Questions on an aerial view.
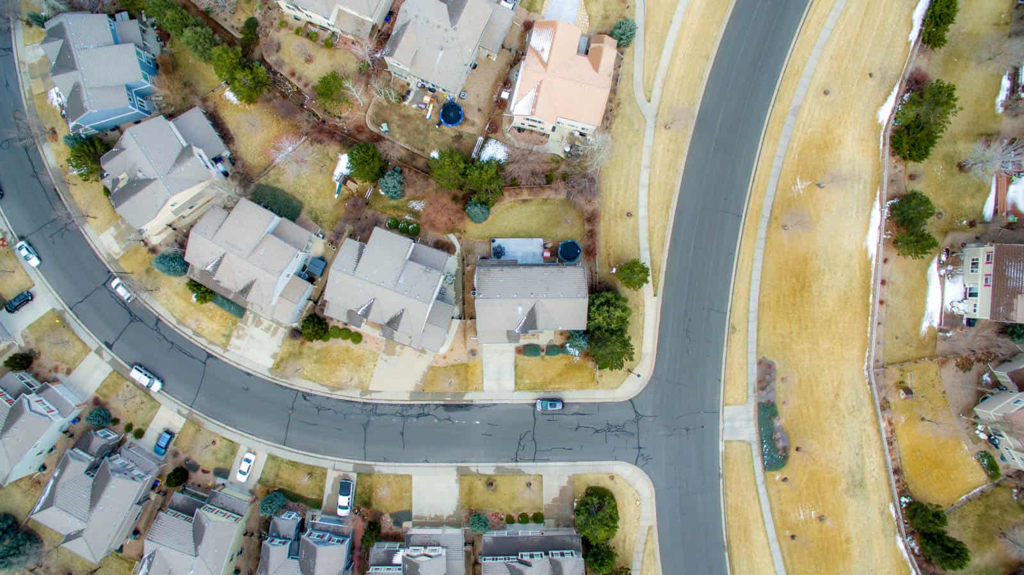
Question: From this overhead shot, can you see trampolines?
Yes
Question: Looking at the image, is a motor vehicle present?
Yes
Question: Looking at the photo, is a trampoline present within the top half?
Yes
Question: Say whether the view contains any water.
No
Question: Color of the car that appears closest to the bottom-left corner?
blue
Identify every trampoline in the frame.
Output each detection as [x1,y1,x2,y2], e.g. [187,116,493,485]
[437,101,464,126]
[555,239,581,263]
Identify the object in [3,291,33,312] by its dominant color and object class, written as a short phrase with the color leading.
blue car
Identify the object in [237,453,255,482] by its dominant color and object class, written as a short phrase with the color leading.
white car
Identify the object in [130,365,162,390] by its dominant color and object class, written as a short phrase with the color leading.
white vehicle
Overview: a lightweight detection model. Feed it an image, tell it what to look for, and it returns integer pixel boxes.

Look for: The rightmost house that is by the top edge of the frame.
[513,17,618,133]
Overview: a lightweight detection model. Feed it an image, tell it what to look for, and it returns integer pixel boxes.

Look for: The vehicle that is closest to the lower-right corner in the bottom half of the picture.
[537,399,563,412]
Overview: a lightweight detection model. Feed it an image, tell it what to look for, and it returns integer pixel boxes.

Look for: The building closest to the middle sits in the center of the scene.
[475,259,589,345]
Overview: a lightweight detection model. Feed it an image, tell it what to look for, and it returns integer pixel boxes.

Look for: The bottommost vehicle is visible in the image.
[337,480,352,515]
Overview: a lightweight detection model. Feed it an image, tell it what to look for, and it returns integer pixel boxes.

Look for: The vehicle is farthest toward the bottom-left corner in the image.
[155,429,175,456]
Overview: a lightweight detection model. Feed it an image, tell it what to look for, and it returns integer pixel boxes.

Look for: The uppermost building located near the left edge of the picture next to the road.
[39,10,159,138]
